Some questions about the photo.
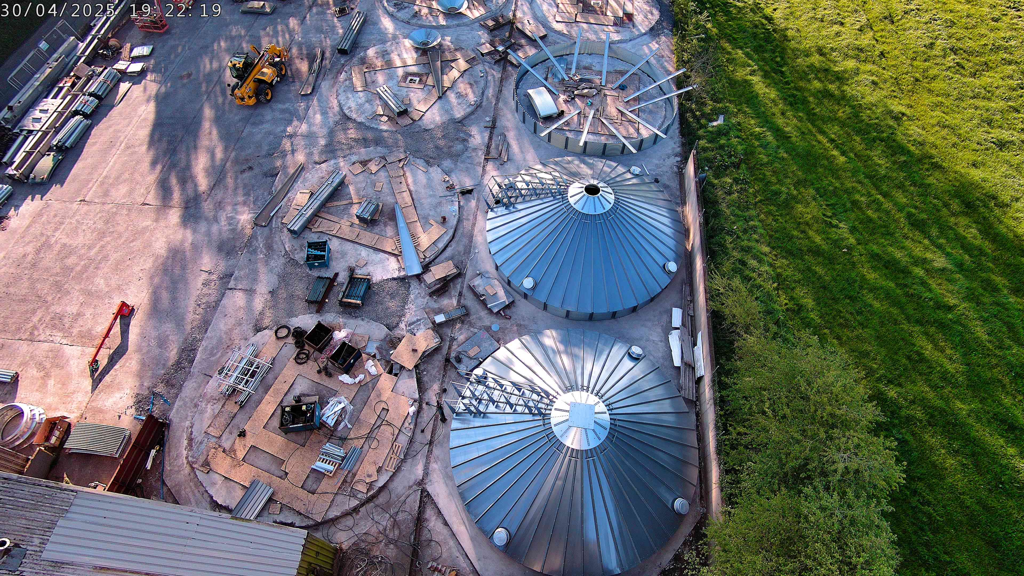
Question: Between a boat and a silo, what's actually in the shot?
silo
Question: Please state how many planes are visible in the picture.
0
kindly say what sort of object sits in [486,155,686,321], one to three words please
silo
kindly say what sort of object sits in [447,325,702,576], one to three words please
silo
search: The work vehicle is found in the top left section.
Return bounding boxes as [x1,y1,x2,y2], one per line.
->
[220,42,288,105]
